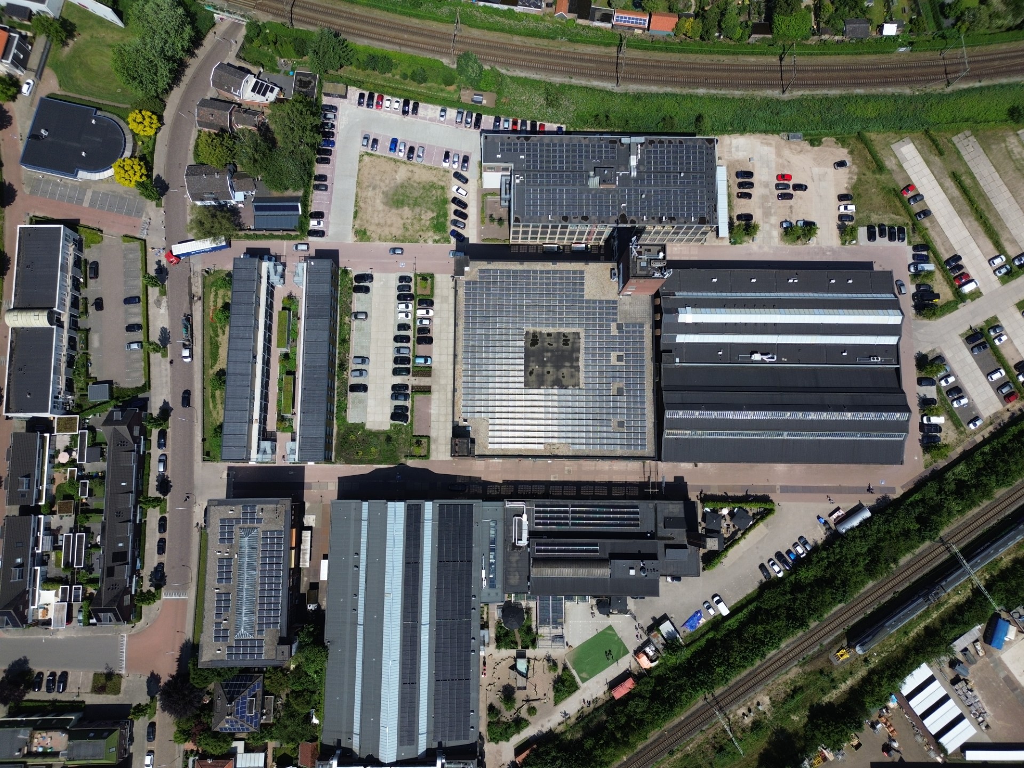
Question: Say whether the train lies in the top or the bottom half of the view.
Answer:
bottom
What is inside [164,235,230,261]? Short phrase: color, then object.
white truck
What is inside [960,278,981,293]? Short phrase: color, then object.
white vehicle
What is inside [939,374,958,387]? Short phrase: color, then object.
white vehicle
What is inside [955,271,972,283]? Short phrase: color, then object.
red vehicle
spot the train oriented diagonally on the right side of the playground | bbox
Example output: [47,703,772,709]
[854,517,1024,649]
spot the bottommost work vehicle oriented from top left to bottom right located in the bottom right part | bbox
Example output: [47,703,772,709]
[876,737,894,757]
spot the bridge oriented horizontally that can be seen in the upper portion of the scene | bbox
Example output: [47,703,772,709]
[204,0,270,27]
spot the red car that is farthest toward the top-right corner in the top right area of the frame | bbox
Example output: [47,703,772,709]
[900,182,919,194]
